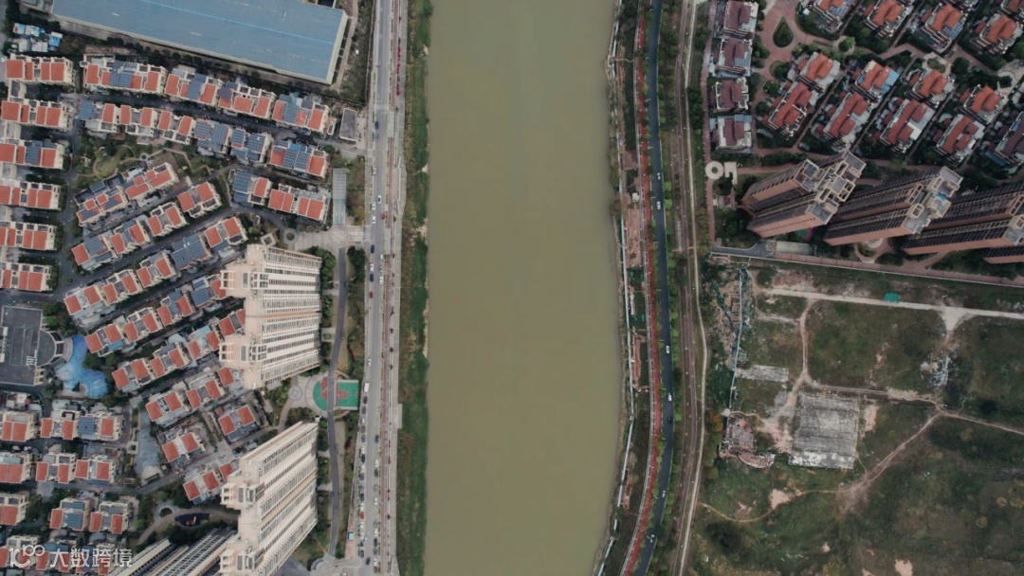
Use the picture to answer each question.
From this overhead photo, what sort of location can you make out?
residential area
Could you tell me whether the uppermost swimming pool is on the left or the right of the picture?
left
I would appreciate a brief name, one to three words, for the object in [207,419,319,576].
building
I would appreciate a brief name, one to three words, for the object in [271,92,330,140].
house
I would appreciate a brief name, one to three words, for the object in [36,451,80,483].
house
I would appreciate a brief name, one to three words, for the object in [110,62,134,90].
solar panel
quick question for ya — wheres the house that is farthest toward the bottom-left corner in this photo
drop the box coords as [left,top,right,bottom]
[0,531,45,568]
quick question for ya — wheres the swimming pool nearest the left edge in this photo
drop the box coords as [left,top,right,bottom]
[55,333,109,400]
